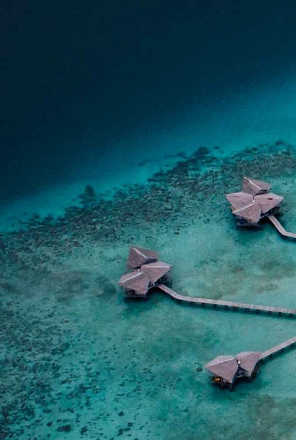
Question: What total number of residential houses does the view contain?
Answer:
3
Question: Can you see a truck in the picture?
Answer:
No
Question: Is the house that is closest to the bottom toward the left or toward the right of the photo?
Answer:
right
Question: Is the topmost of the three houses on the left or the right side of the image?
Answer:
right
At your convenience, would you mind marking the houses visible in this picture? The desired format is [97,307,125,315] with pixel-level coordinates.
[226,178,287,235]
[206,351,266,396]
[118,246,179,308]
